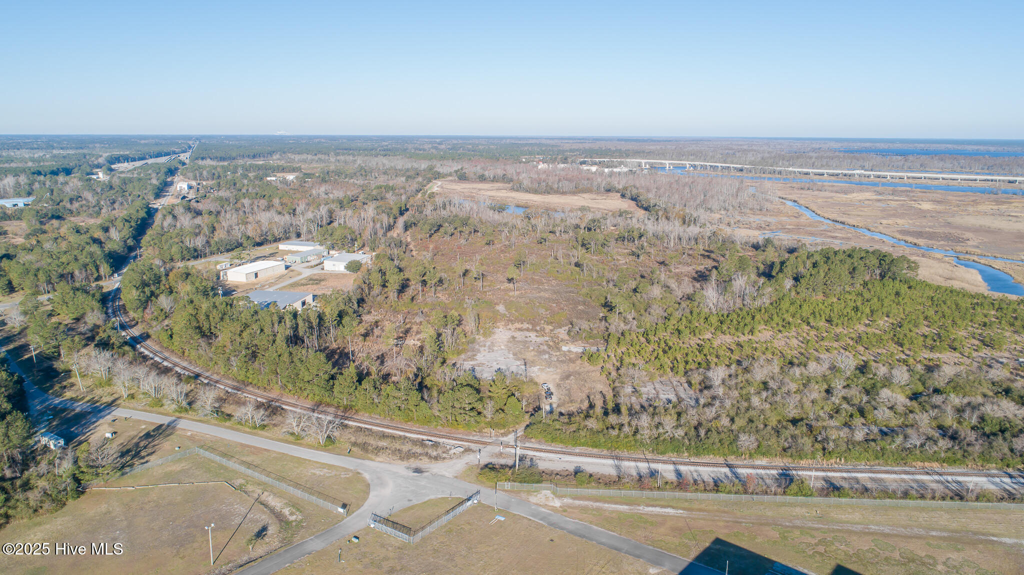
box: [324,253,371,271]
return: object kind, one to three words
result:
building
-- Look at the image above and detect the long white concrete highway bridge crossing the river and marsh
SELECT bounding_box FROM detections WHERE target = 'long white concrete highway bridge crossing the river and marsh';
[546,159,1024,184]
